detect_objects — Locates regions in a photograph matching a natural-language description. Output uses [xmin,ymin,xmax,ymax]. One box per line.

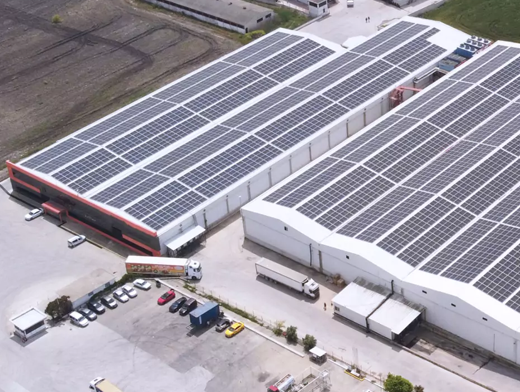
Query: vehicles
[223,320,246,336]
[84,375,123,392]
[65,233,87,246]
[264,362,298,392]
[178,295,198,314]
[156,287,175,303]
[120,258,204,280]
[68,306,88,324]
[78,306,98,320]
[168,295,188,311]
[86,299,107,312]
[122,282,139,296]
[23,206,43,220]
[214,313,233,330]
[112,287,130,302]
[101,293,120,307]
[252,254,323,301]
[130,278,153,289]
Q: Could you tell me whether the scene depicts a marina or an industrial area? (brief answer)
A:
industrial area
